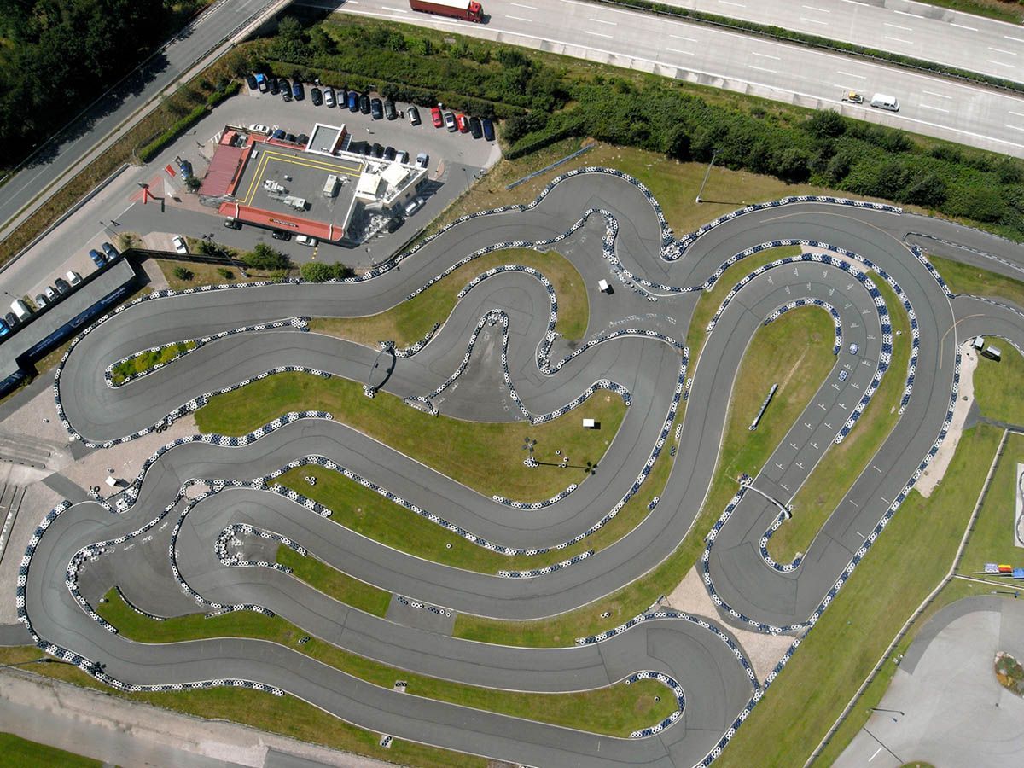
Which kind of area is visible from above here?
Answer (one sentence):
This image shows a sports ground.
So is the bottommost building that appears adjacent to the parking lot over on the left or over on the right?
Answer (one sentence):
The bottommost building that appears adjacent to the parking lot is on the left side of the image.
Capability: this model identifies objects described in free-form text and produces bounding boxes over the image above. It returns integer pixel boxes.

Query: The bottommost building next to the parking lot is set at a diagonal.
[0,257,141,393]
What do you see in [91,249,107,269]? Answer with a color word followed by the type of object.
blue car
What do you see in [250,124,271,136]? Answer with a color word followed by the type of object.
white vehicle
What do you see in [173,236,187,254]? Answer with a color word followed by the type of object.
white car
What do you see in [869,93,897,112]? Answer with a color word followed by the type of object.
white vehicle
